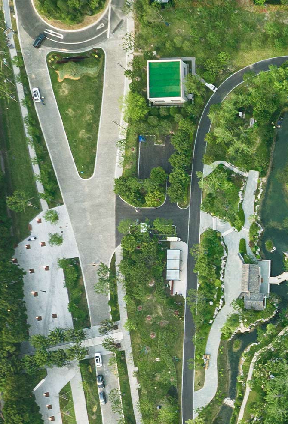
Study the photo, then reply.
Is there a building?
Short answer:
Yes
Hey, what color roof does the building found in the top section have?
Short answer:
green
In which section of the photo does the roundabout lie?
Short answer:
top left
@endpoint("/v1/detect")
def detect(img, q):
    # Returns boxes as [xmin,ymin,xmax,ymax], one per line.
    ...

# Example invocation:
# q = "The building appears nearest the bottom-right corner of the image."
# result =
[240,292,268,311]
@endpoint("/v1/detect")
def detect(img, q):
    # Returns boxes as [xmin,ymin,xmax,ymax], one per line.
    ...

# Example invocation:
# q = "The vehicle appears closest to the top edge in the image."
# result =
[32,33,46,48]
